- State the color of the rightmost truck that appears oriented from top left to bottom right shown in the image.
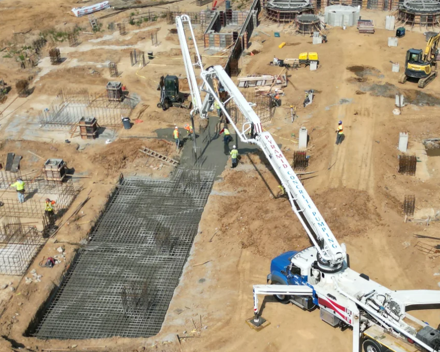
white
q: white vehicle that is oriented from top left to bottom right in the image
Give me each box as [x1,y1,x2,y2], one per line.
[176,8,440,352]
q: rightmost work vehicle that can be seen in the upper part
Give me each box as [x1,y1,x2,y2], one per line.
[401,25,440,85]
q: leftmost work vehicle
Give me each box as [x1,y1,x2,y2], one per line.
[159,77,186,109]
